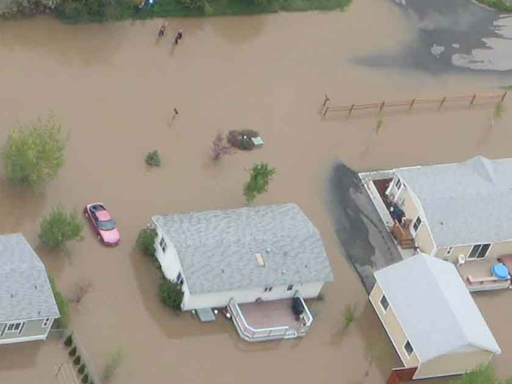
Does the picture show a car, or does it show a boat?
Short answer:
car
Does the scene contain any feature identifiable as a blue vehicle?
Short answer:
No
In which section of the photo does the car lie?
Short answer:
left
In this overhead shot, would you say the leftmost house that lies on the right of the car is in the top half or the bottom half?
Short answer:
bottom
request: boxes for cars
[77,203,125,253]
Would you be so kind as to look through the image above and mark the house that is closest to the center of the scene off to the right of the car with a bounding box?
[152,204,333,310]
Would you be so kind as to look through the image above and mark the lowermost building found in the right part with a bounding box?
[369,258,502,378]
